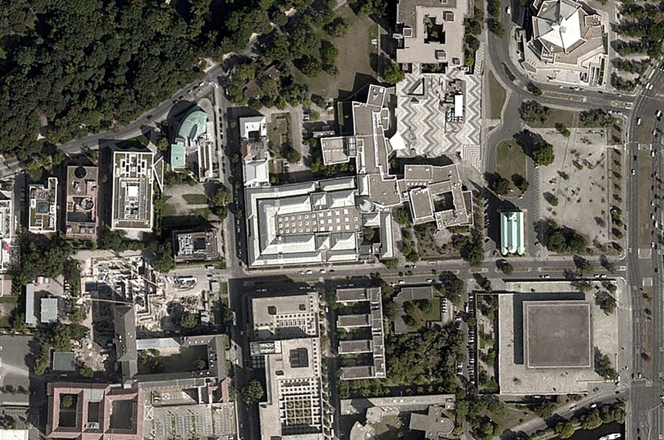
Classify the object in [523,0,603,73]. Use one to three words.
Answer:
building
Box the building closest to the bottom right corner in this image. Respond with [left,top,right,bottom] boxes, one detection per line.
[500,282,618,394]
